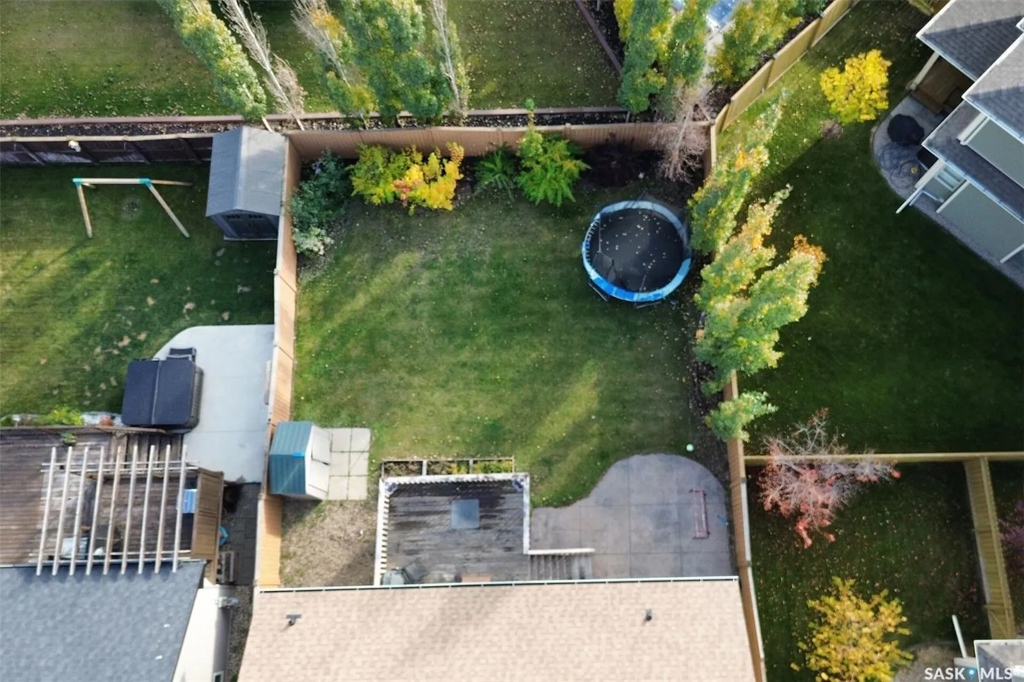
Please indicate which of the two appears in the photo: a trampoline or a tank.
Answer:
trampoline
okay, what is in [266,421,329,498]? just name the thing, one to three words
shed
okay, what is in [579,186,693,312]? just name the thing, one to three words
trampoline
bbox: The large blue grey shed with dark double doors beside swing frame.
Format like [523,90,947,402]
[200,124,285,241]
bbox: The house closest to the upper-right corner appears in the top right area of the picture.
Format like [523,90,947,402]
[895,0,1024,279]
